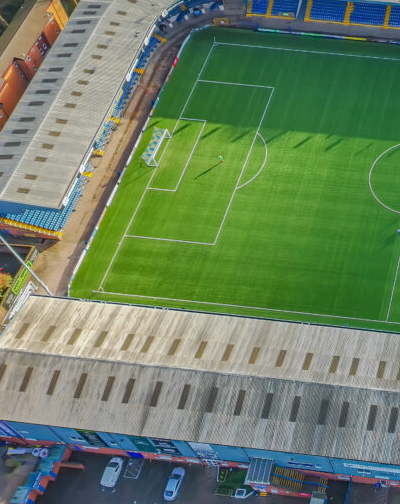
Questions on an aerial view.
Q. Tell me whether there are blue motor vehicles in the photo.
Yes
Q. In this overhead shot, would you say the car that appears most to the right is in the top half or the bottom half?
bottom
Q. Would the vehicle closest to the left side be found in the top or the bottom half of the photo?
bottom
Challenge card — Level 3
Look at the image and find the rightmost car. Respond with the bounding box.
[162,467,186,500]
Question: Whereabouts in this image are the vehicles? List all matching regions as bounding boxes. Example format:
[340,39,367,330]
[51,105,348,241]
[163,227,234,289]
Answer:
[162,467,186,500]
[100,456,126,488]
